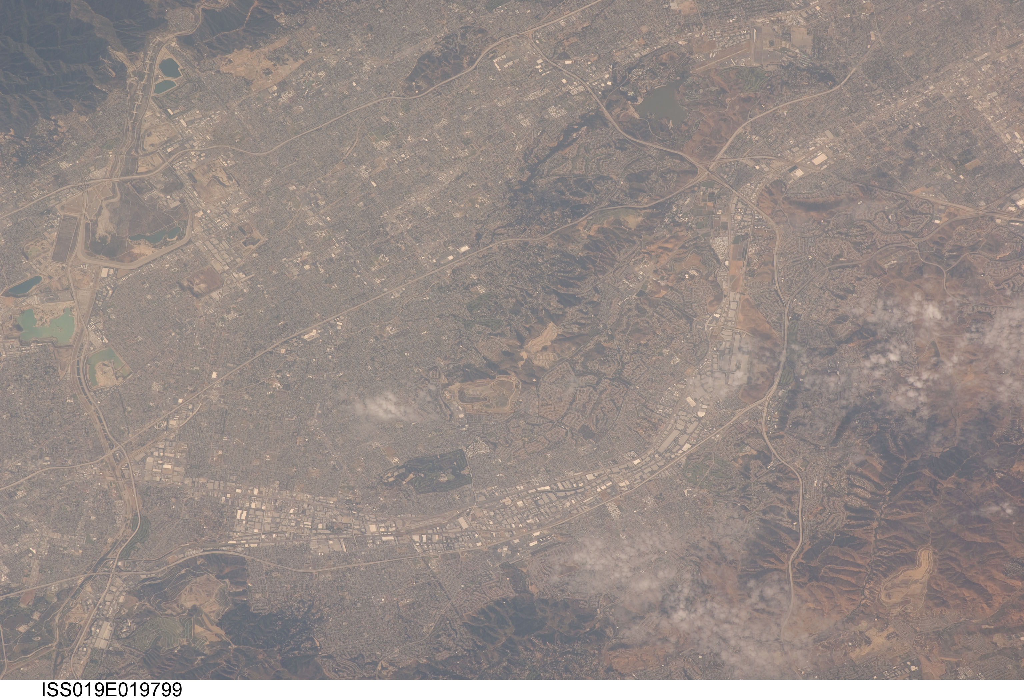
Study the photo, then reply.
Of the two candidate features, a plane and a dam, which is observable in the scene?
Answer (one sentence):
The image shows a dam.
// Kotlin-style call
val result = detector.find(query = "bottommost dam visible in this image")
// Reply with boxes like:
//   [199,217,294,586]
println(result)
[78,201,193,268]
